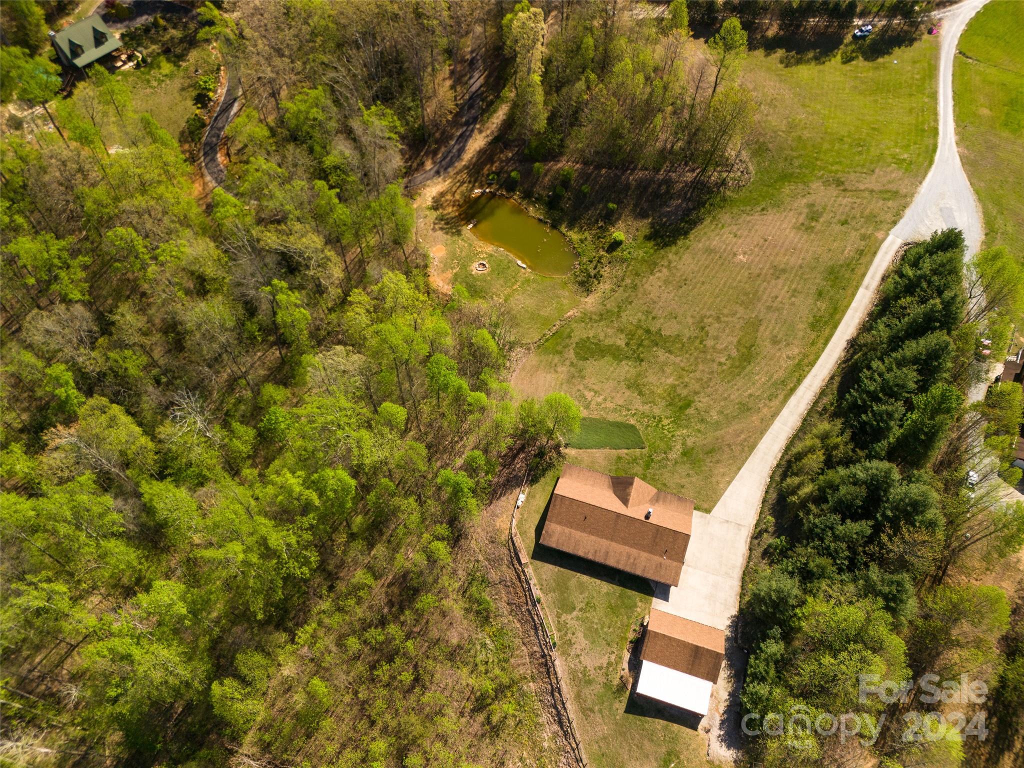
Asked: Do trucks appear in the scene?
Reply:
No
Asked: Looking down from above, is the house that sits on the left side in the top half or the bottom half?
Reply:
top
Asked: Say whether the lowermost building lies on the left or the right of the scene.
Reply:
right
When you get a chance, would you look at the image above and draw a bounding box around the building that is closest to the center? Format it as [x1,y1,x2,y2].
[539,463,694,588]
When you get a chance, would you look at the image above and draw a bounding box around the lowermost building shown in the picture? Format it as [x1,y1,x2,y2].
[633,608,725,719]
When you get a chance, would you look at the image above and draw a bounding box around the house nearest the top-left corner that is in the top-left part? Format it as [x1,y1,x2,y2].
[47,15,129,78]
